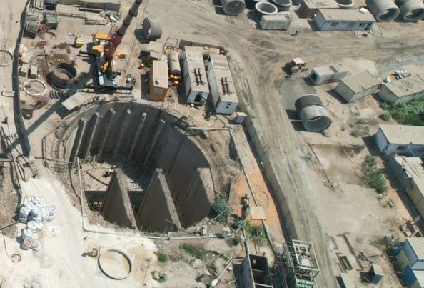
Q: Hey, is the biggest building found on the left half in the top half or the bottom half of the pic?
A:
top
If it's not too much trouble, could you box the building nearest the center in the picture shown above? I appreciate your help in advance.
[144,58,168,102]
